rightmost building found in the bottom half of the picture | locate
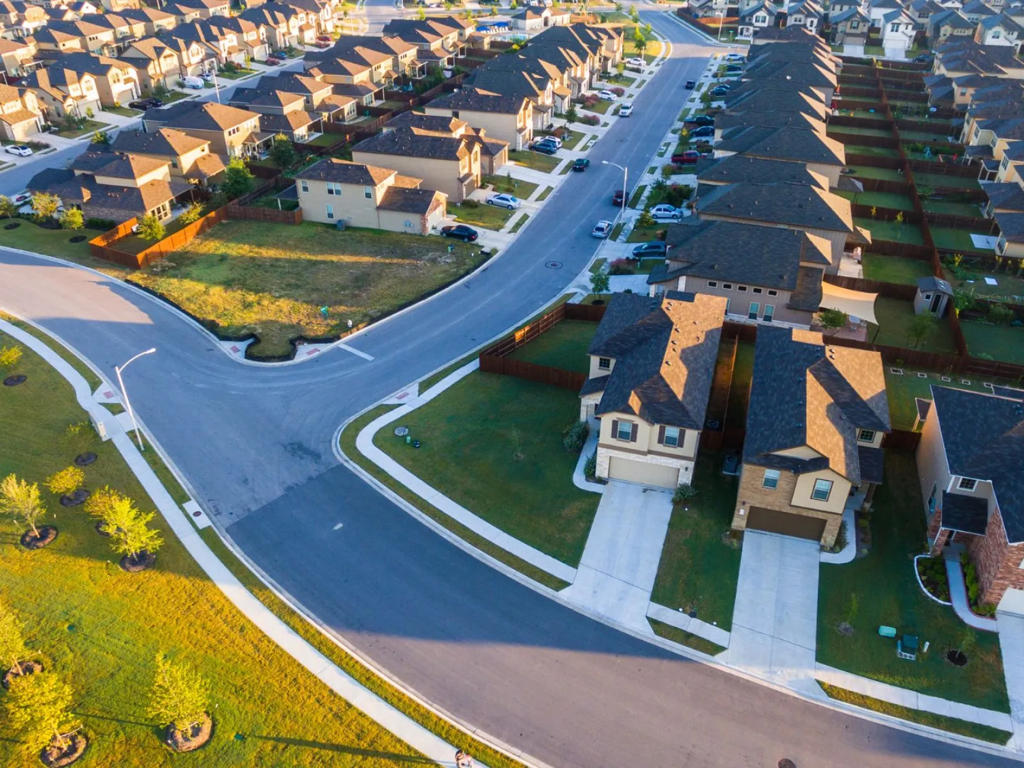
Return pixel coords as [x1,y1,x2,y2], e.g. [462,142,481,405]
[893,385,1024,610]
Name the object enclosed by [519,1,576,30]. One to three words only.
building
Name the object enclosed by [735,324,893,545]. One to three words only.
house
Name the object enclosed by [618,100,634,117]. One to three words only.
car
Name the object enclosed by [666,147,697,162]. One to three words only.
vehicle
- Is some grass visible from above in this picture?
Yes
